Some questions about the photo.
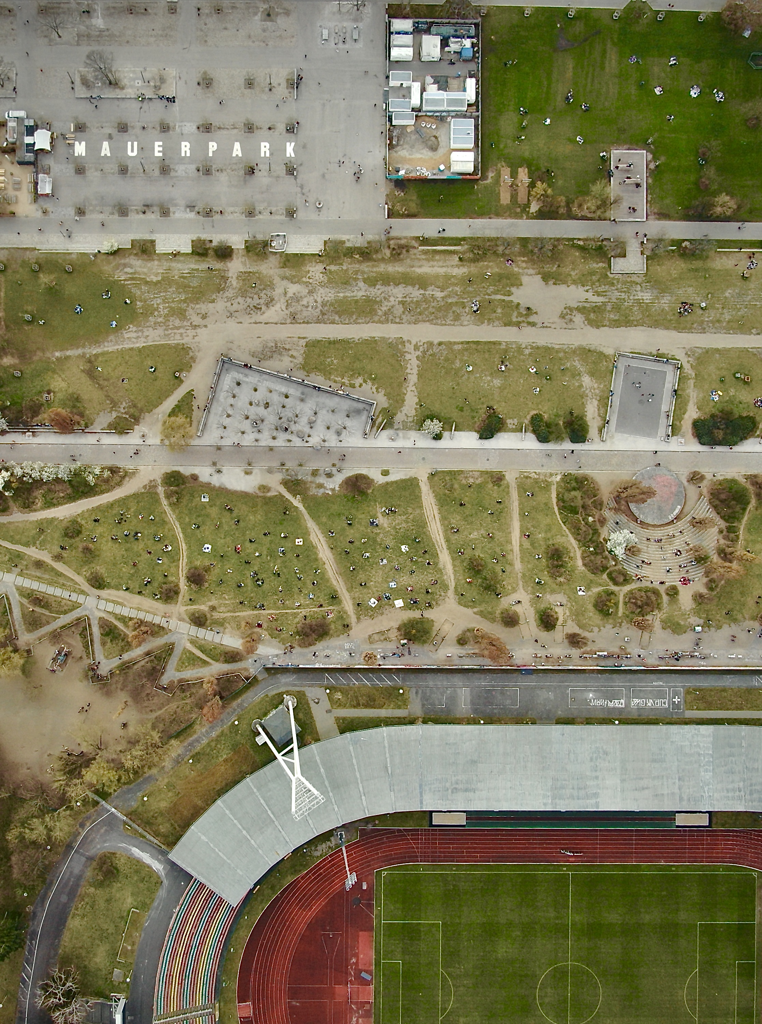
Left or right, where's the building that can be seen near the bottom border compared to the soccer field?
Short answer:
to its left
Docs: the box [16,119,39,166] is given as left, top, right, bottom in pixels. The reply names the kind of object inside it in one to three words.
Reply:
building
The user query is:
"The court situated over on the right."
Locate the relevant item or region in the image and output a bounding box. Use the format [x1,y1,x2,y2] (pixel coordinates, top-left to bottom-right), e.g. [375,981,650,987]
[605,357,679,441]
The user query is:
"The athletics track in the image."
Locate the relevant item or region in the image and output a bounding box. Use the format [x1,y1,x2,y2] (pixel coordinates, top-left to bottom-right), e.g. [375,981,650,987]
[237,828,762,1024]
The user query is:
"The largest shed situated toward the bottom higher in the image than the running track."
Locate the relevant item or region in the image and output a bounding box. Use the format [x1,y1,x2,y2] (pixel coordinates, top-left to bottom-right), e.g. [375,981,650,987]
[262,705,301,746]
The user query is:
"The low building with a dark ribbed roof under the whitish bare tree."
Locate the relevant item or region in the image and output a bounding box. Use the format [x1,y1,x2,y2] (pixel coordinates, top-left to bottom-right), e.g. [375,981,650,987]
[78,994,118,1024]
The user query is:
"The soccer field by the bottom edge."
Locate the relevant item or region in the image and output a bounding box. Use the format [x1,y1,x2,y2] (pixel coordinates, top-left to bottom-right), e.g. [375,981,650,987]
[375,863,762,1024]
